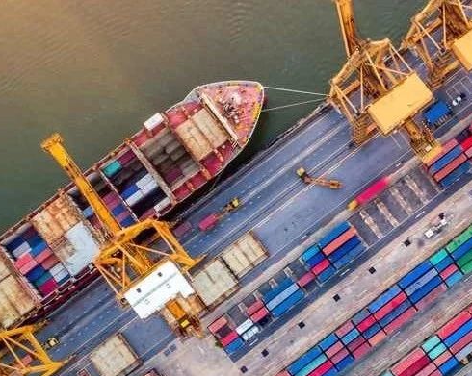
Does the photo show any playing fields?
No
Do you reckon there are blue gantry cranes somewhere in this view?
No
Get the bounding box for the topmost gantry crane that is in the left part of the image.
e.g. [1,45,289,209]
[36,126,219,343]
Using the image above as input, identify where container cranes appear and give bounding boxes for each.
[394,0,472,94]
[36,126,219,343]
[318,0,445,169]
[0,315,88,376]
